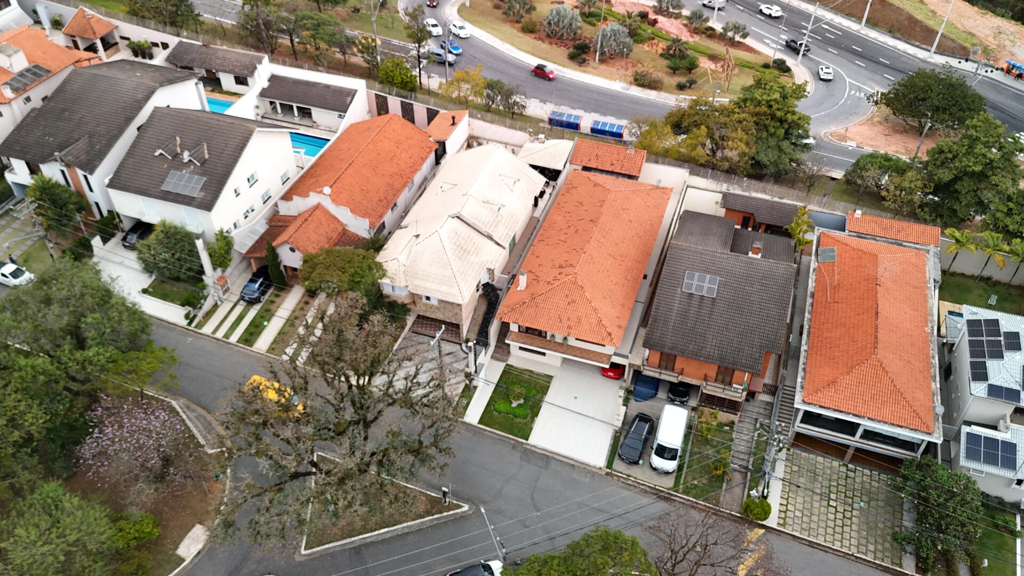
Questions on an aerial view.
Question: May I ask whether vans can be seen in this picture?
Yes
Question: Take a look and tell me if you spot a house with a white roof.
Yes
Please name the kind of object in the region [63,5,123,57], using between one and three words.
gazebo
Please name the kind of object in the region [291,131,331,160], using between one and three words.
swimming pool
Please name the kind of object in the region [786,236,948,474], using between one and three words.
house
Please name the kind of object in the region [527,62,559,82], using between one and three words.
car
